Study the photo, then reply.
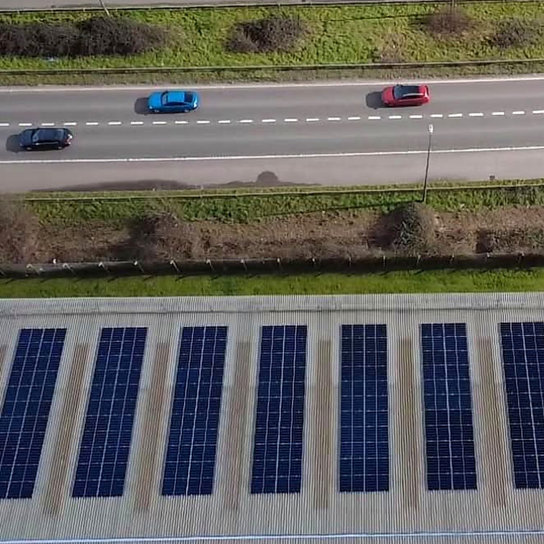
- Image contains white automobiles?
No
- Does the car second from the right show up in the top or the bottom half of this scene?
top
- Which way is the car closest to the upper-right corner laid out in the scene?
from side to side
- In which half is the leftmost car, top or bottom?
top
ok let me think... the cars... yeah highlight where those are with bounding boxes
[378,81,431,106]
[16,126,76,149]
[146,88,200,111]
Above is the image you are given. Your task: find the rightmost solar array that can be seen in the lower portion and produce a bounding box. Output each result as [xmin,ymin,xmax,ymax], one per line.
[499,322,544,490]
